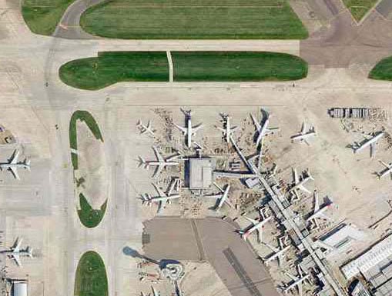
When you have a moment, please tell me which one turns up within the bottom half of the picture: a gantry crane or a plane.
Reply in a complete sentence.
Visible within the bottom half of the picture is a plane.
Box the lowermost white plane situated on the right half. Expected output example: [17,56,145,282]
[279,273,310,296]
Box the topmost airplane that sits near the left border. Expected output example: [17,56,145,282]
[0,150,31,181]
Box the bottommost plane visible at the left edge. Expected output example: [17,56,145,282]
[0,238,33,268]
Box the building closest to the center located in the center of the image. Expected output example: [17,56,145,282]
[189,158,213,190]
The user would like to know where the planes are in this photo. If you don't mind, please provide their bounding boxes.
[261,242,291,271]
[216,113,240,142]
[279,273,310,296]
[0,238,33,268]
[138,149,179,178]
[351,131,386,156]
[291,173,315,194]
[139,183,180,213]
[307,196,335,223]
[209,184,234,213]
[376,162,392,181]
[250,111,281,146]
[0,150,31,181]
[240,216,272,241]
[174,110,204,147]
[291,123,316,146]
